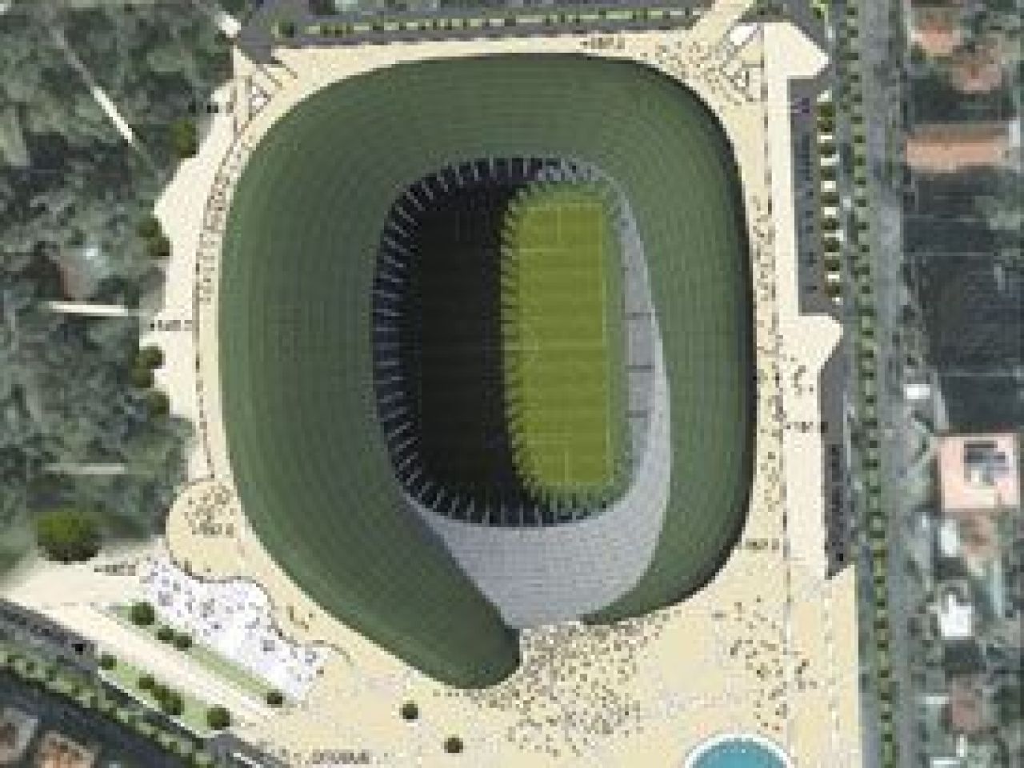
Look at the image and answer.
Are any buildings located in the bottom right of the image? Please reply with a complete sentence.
Yes, a building appears in the bottom right of the image.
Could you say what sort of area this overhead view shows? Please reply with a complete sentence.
What you see here is a sports ground.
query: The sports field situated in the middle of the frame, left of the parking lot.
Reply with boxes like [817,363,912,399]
[422,204,614,483]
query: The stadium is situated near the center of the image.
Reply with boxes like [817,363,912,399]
[218,50,758,691]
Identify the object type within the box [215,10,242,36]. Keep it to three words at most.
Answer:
building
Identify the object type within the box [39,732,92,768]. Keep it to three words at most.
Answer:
house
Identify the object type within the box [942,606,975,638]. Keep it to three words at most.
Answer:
house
